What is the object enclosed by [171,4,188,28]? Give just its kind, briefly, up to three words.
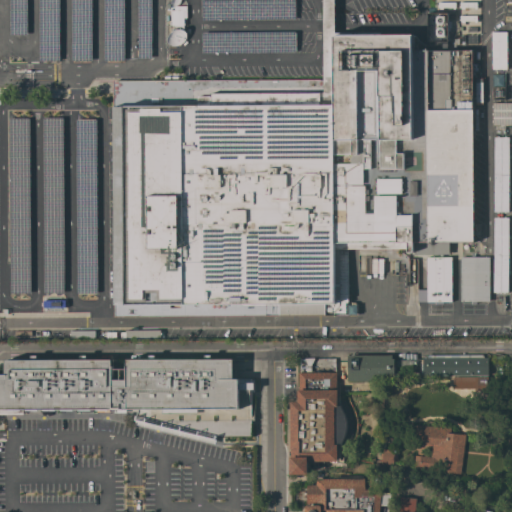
tent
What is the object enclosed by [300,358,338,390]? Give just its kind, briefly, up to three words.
house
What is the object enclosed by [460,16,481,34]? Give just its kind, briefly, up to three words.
shed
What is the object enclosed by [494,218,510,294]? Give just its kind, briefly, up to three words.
building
